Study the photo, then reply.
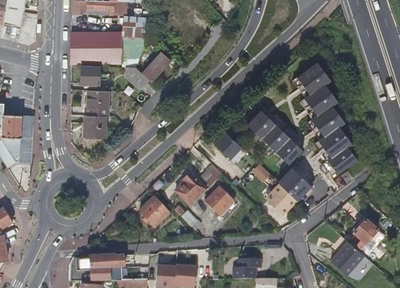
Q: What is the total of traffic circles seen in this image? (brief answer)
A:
1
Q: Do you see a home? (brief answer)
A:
Yes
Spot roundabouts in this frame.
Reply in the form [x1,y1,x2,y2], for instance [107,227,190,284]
[33,165,107,238]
